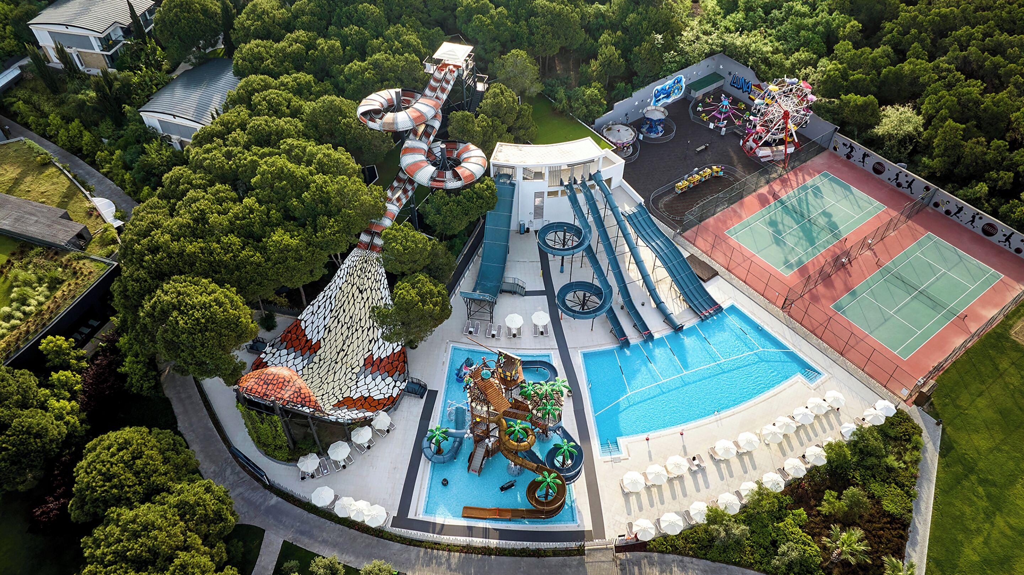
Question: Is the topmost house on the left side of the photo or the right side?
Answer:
left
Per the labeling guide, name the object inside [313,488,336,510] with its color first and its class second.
white umbrella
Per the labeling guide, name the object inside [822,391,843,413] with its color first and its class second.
white umbrella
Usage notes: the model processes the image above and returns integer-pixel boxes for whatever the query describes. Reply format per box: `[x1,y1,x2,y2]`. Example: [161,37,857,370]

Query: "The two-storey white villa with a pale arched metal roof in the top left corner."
[22,0,148,74]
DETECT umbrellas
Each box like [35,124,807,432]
[872,401,895,419]
[645,466,667,488]
[330,442,353,465]
[505,316,524,335]
[349,502,370,525]
[657,514,681,537]
[760,474,783,496]
[620,475,643,497]
[822,391,843,413]
[792,408,814,429]
[834,423,857,443]
[714,441,736,463]
[803,447,826,469]
[364,506,386,529]
[784,459,807,482]
[313,488,336,510]
[804,399,827,417]
[664,457,686,480]
[737,434,758,455]
[716,493,739,515]
[772,417,795,437]
[734,480,758,503]
[630,520,654,543]
[860,409,883,430]
[334,497,356,520]
[372,415,393,437]
[689,502,712,525]
[532,313,550,333]
[299,455,322,477]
